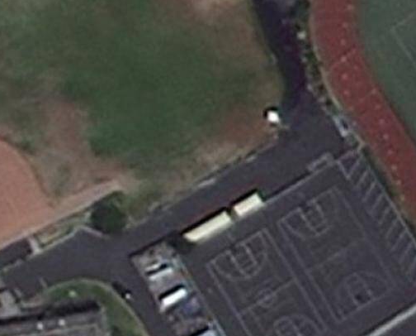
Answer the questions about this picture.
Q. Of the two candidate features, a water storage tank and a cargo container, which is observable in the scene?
cargo container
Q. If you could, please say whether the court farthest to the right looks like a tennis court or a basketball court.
basketball court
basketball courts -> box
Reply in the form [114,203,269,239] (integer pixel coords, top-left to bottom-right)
[209,231,325,336]
[277,186,393,320]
